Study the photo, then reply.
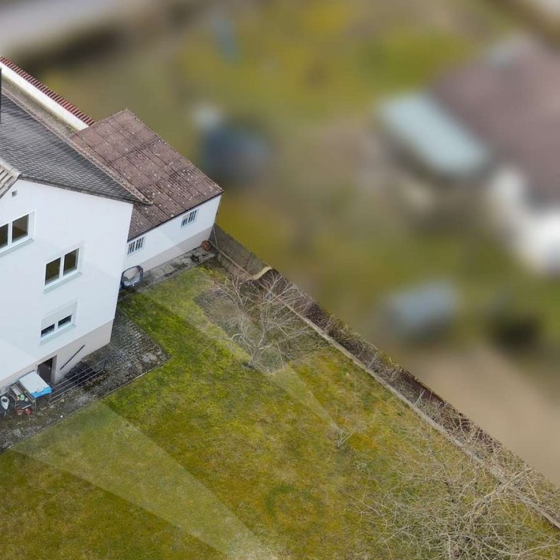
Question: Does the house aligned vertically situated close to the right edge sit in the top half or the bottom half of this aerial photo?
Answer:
top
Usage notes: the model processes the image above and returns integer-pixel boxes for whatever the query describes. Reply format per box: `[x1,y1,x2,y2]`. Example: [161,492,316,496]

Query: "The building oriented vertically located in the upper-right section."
[464,35,560,261]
